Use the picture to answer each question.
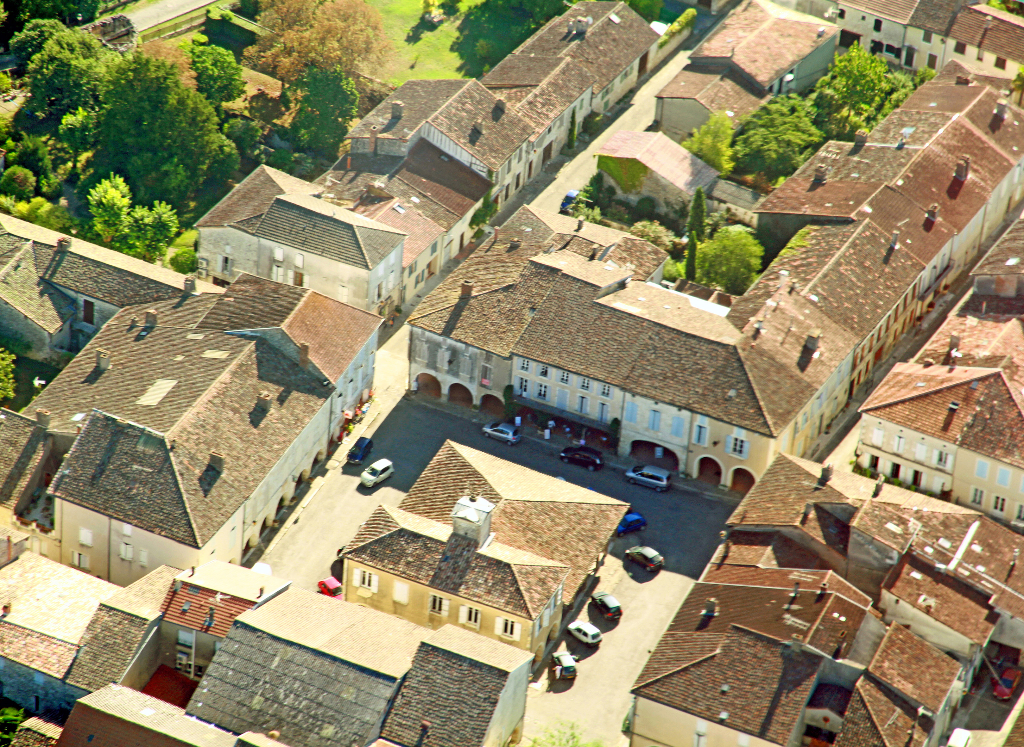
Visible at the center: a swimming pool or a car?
car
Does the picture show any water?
No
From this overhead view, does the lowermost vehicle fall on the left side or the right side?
right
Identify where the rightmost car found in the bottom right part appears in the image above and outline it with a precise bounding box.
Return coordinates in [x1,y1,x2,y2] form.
[992,663,1024,701]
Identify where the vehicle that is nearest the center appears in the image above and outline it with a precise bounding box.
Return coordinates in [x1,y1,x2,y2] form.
[479,422,524,448]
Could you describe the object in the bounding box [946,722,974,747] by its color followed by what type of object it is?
white vehicle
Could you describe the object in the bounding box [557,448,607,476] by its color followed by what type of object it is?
black car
